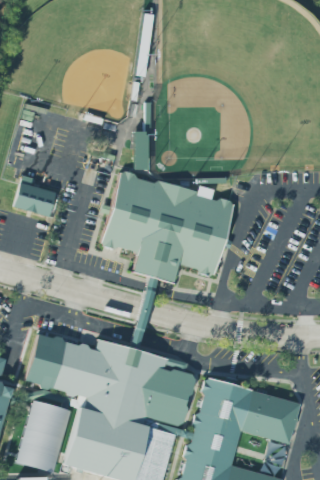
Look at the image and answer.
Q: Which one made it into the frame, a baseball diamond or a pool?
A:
baseball diamond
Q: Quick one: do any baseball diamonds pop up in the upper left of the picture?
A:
Yes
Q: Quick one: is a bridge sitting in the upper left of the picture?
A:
No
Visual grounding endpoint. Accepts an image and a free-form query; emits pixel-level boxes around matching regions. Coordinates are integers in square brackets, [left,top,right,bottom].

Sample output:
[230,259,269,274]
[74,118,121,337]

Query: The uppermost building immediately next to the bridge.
[100,170,234,285]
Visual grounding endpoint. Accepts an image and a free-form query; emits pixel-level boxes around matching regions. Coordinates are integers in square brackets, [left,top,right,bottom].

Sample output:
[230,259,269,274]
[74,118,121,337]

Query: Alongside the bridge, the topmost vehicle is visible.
[104,309,132,322]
